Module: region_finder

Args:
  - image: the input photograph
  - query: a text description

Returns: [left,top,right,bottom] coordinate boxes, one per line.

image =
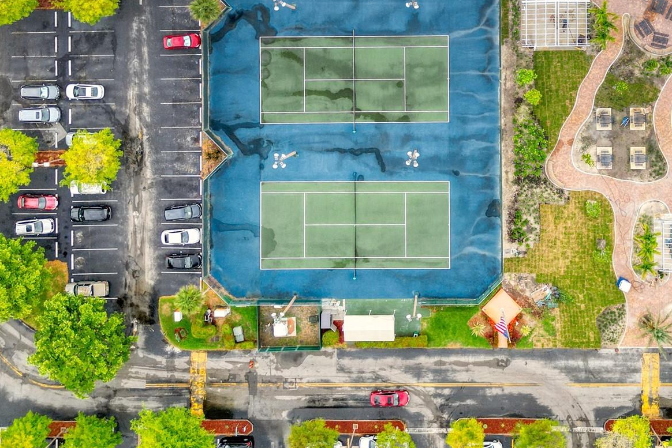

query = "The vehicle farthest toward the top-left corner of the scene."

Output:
[21,83,61,100]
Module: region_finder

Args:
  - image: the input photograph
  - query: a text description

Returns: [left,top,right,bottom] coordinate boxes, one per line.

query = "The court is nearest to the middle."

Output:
[261,172,450,282]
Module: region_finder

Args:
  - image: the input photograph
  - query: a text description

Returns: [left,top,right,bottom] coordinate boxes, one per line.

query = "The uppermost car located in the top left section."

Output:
[163,32,202,50]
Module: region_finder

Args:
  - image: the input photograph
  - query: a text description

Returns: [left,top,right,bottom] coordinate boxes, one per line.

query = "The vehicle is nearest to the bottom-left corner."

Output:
[66,279,111,297]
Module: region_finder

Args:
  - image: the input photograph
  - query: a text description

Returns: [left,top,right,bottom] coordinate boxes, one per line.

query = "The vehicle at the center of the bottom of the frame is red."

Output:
[371,388,410,408]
